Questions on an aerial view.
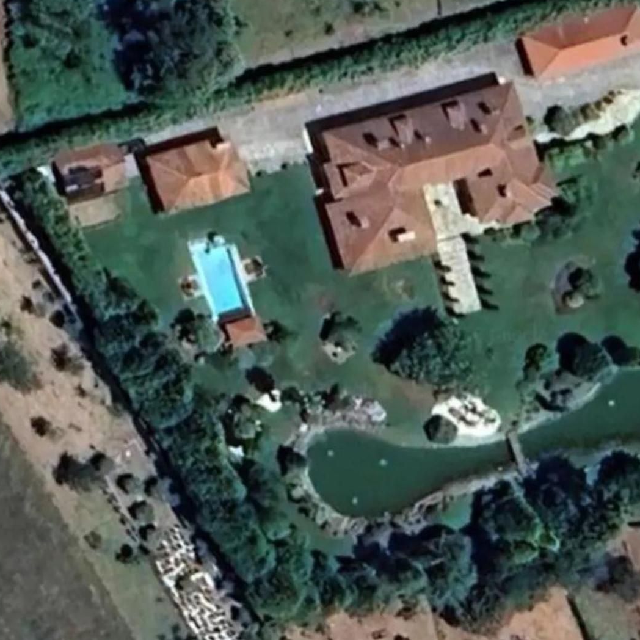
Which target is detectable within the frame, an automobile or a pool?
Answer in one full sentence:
There is a pool in the scene.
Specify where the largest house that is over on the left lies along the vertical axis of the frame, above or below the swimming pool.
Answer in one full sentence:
Looking at the scene, the largest house that is over on the left is located above the swimming pool.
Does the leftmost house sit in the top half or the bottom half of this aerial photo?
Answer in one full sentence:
You can find the leftmost house in the top half.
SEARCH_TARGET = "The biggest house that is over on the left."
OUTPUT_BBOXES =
[144,135,251,213]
